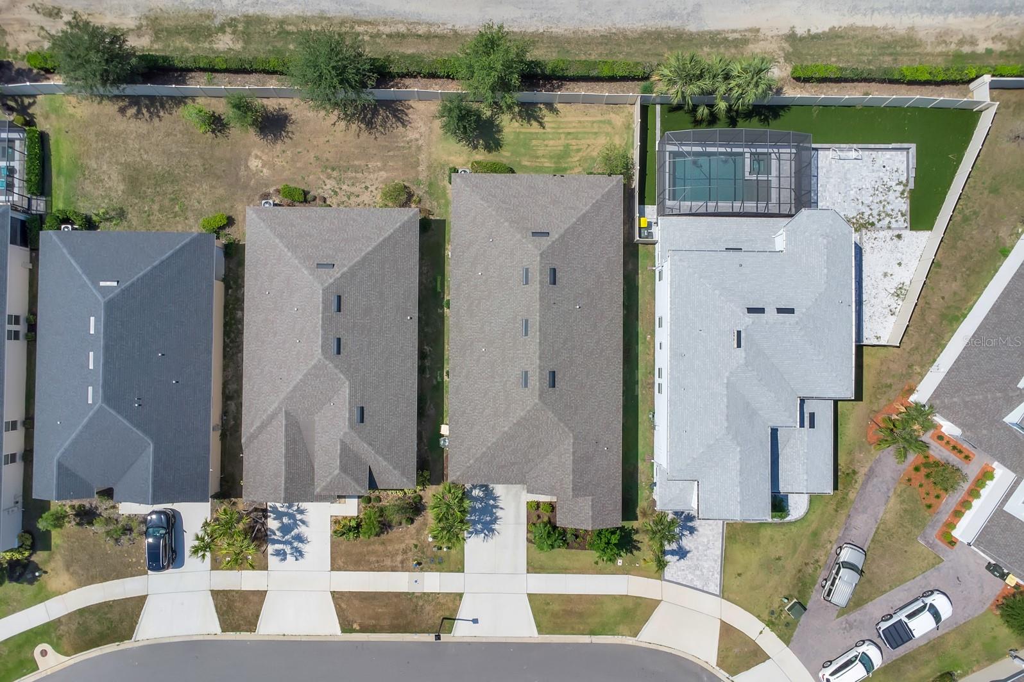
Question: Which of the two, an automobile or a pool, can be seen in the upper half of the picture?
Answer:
pool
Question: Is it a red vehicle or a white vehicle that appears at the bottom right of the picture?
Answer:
white vehicle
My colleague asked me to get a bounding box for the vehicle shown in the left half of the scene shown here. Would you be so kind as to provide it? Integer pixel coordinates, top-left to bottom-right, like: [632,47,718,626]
[140,508,178,577]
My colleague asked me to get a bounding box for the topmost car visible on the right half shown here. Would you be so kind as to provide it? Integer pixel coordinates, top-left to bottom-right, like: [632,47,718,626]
[823,541,870,610]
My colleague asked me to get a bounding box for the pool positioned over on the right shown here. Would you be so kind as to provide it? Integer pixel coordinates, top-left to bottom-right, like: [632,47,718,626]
[668,144,776,207]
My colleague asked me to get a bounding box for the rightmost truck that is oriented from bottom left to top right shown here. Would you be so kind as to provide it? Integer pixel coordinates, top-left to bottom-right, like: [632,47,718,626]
[879,590,959,652]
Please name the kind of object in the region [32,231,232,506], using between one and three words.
house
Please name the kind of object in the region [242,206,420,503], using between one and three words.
house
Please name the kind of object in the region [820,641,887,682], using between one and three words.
car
